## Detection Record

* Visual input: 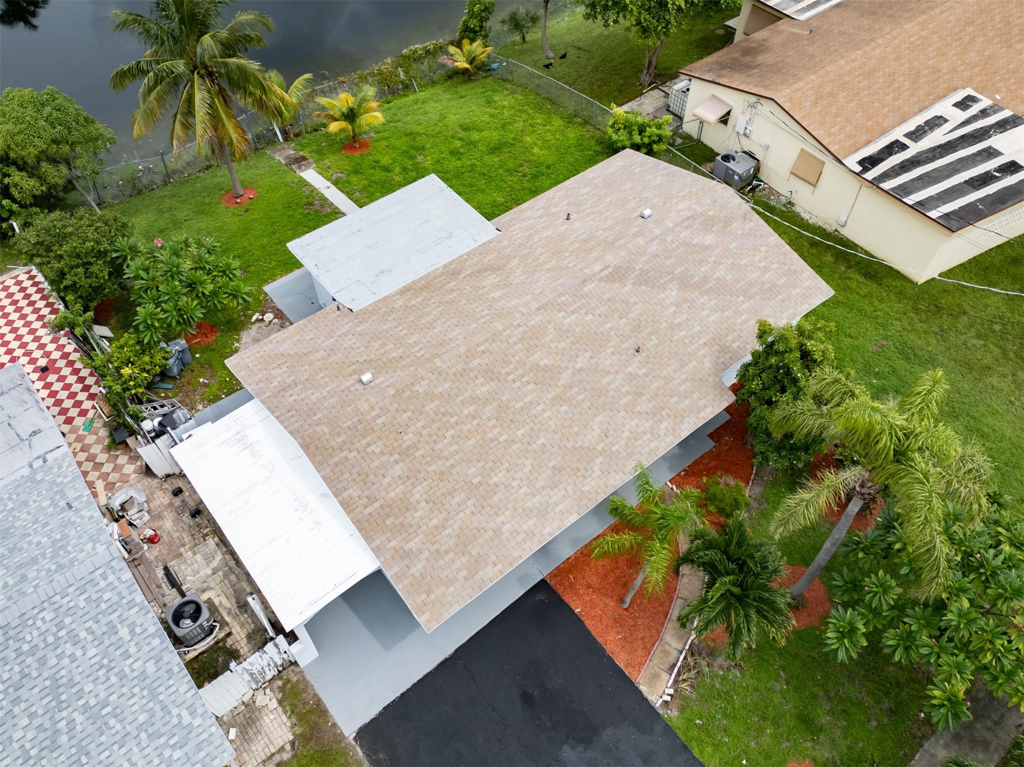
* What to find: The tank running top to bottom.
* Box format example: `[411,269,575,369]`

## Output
[667,81,690,119]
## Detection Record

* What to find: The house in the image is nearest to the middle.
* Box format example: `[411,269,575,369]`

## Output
[168,148,839,665]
